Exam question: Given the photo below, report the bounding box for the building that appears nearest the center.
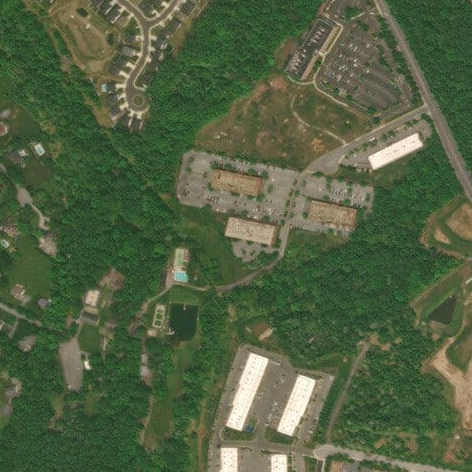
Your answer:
[225,217,279,245]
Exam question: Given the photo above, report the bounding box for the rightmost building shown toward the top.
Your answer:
[369,133,424,170]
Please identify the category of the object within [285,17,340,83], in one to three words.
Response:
building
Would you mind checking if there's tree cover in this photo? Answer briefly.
Yes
